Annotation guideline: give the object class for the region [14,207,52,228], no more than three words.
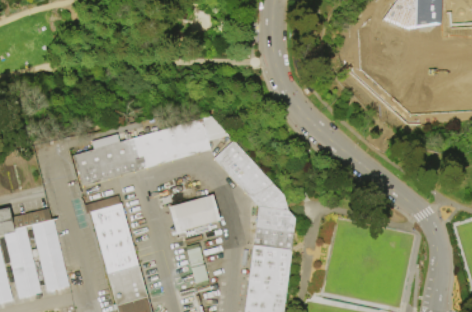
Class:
building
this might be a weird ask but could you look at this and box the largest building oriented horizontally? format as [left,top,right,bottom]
[74,120,210,185]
